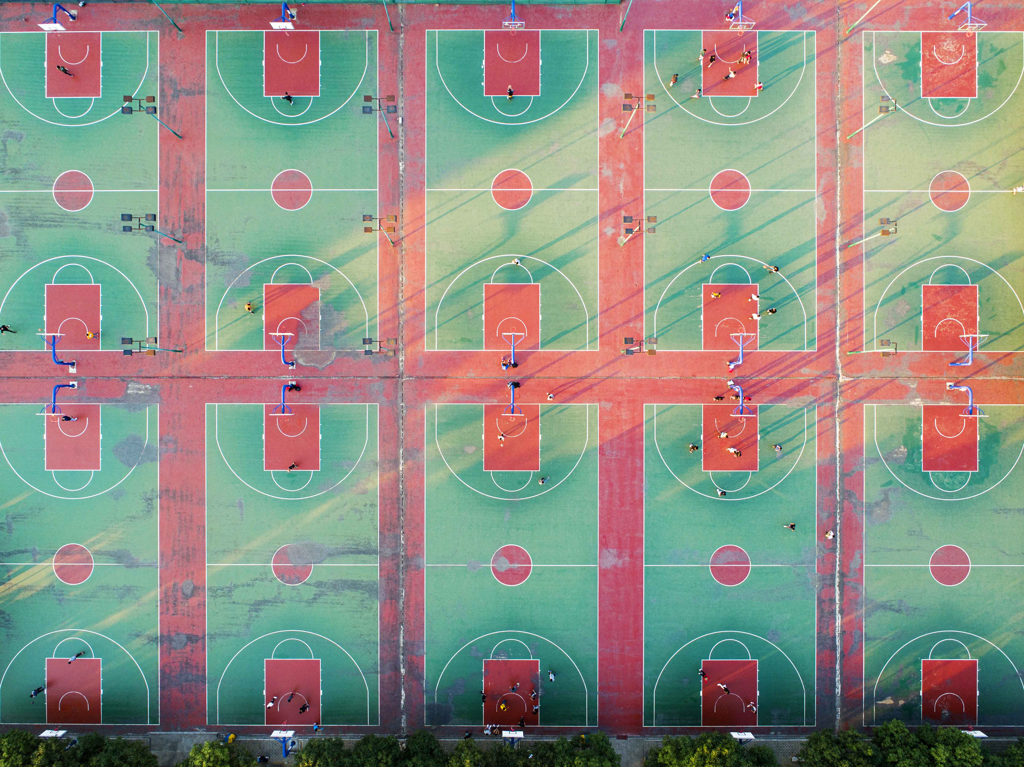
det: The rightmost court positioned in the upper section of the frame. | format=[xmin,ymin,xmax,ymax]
[864,30,1024,351]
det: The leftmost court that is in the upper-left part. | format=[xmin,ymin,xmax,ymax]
[0,30,159,351]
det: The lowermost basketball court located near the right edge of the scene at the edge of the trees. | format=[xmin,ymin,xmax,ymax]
[864,404,1024,725]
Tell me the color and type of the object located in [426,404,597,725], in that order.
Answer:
green basketball court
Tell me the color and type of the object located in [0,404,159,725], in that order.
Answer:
green basketball court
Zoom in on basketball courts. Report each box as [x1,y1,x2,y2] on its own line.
[426,30,598,351]
[864,30,1024,351]
[206,30,378,351]
[644,30,816,351]
[0,404,159,725]
[426,404,597,725]
[206,404,378,725]
[864,404,1024,725]
[644,404,816,725]
[0,30,159,351]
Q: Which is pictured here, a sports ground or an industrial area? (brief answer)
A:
sports ground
